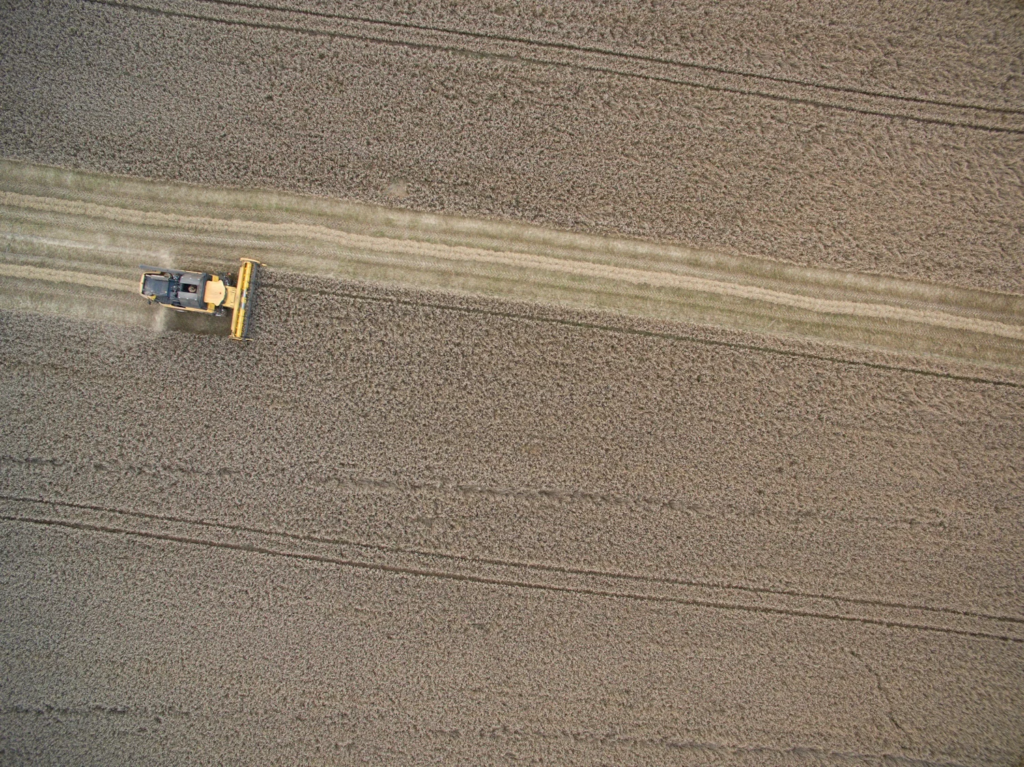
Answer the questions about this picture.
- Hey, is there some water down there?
No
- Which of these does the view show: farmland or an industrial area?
farmland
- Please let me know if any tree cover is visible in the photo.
No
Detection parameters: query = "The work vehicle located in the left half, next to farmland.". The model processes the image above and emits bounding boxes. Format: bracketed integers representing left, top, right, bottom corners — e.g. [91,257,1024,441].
[137,257,269,340]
